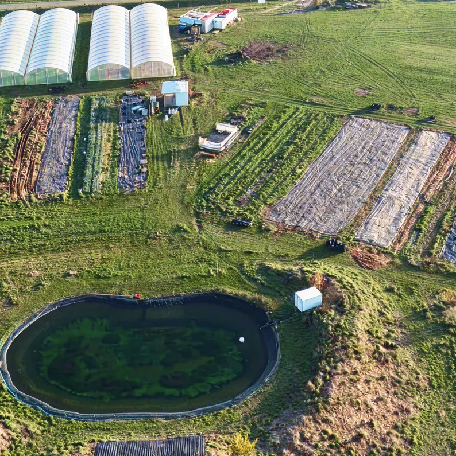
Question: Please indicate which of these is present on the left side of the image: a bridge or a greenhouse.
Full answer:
It is a greenhouse that can be seen on the left side of the image.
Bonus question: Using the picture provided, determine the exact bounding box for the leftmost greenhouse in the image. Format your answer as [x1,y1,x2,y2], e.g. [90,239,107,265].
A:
[0,11,85,86]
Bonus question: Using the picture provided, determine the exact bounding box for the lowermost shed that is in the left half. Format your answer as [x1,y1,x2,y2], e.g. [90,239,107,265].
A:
[163,79,189,105]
